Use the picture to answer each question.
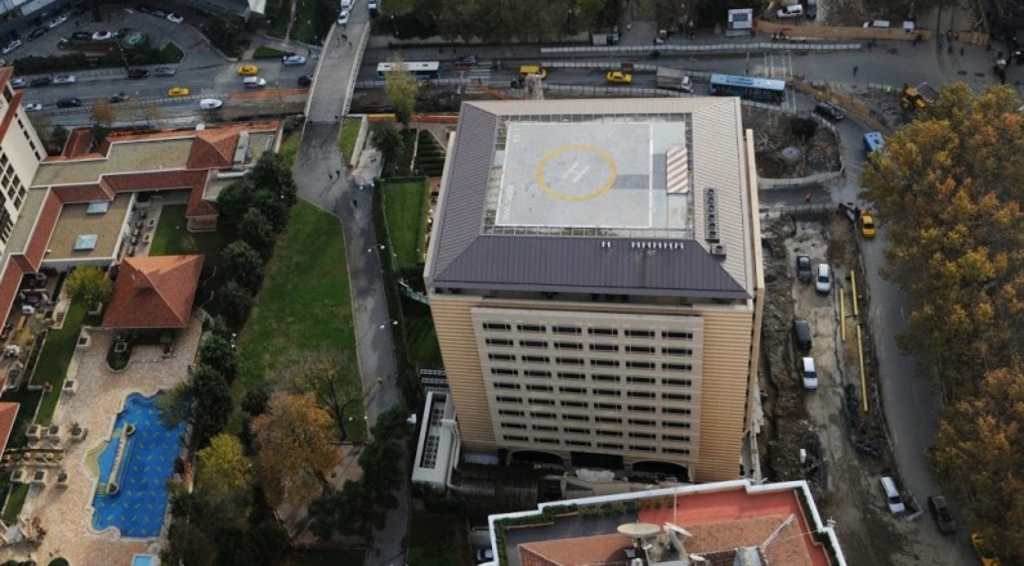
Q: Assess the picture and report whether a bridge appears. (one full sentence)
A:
Yes, a bridge can be made out from above.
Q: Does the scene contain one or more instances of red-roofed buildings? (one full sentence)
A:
Yes, the image includes a red-roofed building.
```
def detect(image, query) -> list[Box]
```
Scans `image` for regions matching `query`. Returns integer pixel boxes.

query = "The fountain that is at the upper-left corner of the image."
[122,32,145,48]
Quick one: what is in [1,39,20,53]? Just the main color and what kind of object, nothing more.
gray car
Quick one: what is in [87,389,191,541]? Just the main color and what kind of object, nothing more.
blue swimming pool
